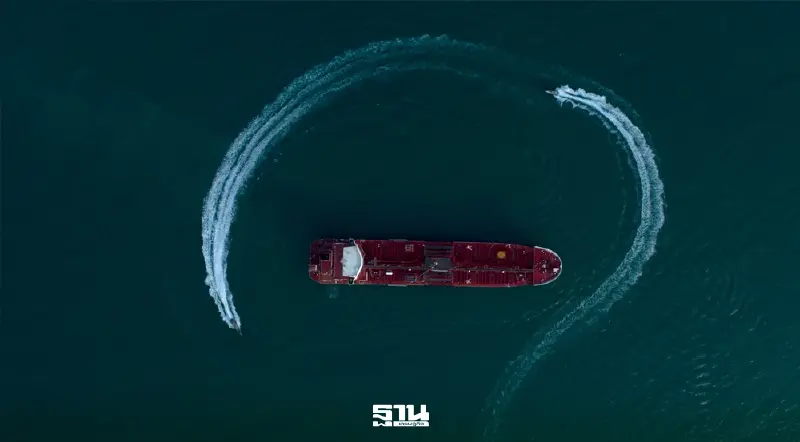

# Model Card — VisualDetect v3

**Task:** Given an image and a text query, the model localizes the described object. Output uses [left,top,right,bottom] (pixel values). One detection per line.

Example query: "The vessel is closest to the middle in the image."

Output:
[308,238,564,287]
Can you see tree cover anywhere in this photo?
No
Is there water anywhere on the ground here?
Yes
